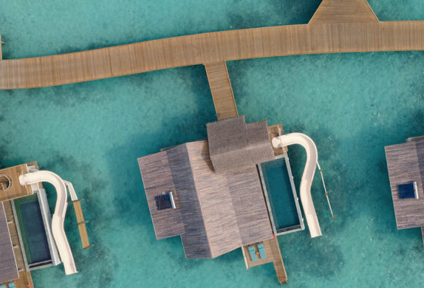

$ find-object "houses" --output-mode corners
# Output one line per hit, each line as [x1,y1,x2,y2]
[0,158,61,288]
[137,114,290,282]
[384,135,424,246]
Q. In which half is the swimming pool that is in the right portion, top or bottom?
bottom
